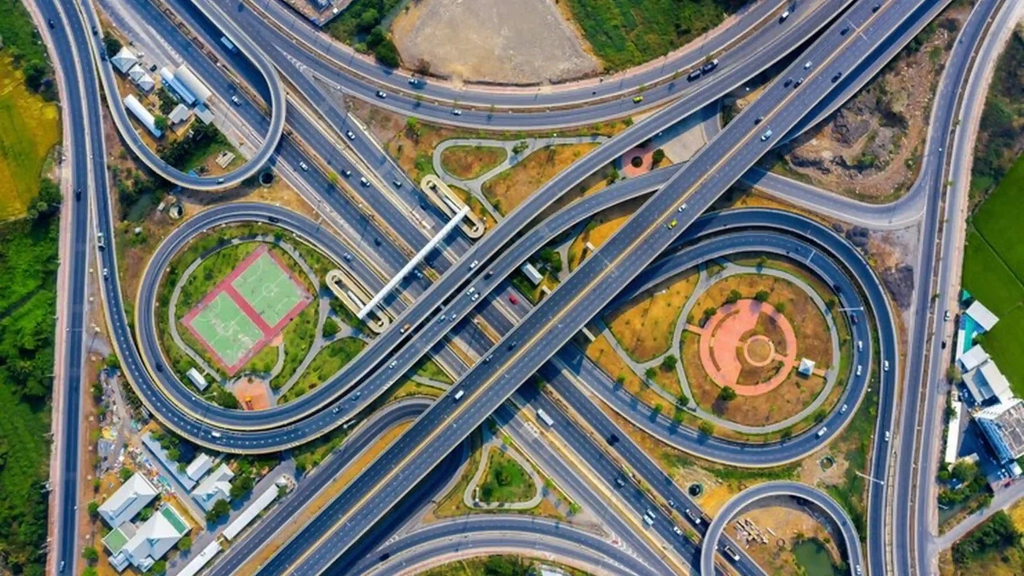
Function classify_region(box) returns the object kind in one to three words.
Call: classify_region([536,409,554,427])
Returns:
vehicle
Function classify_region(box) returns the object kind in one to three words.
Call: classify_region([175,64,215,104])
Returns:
shed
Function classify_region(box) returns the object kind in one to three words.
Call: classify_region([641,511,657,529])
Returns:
vehicle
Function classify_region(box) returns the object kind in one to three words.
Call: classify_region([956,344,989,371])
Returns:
building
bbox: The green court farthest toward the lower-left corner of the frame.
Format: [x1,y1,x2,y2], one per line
[181,283,272,376]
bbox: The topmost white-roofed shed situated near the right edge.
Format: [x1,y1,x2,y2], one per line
[960,300,1000,331]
